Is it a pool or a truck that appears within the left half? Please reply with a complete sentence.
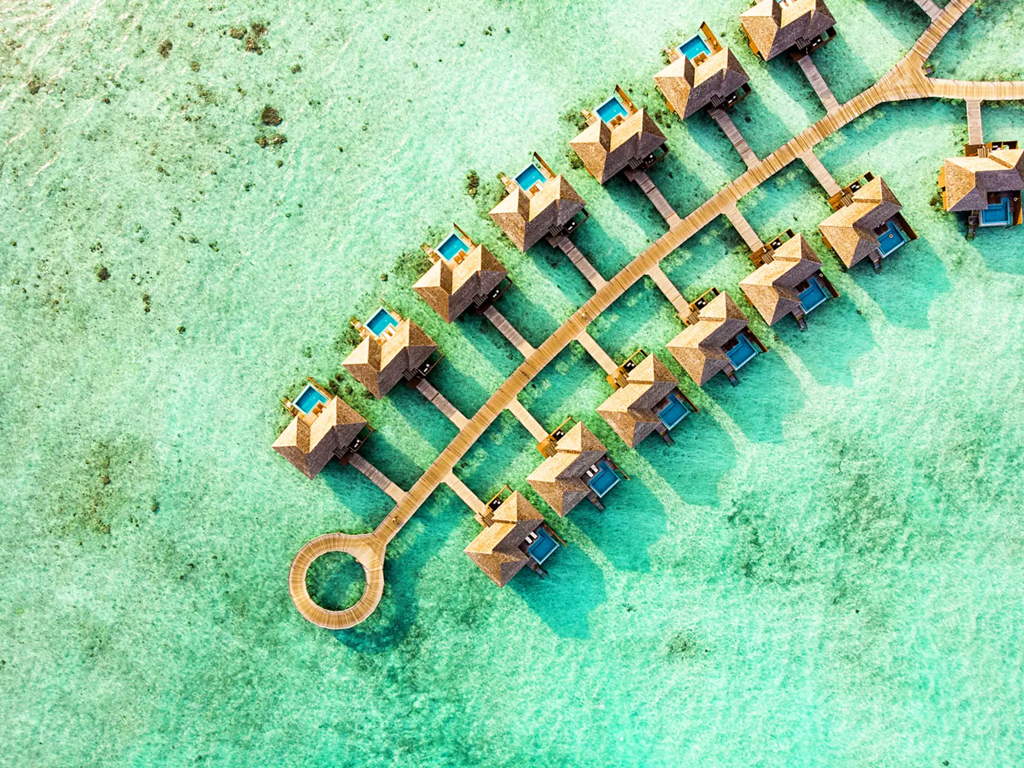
It is a pool that can be seen within the left half.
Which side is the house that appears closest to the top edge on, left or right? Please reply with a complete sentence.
You can find the house that appears closest to the top edge on the right side of the picture.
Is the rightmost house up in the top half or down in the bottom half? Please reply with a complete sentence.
It is in the top half that the rightmost house appears.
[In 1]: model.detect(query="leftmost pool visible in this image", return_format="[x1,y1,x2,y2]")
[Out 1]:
[294,382,331,416]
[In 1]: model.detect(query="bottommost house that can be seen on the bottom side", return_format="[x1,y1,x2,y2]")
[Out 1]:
[464,482,565,587]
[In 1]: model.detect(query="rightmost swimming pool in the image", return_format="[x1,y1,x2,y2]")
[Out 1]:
[971,201,1007,230]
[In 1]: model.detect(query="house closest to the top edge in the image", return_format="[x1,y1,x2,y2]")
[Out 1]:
[736,0,837,74]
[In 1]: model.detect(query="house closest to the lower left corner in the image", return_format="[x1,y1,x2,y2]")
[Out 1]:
[272,378,378,480]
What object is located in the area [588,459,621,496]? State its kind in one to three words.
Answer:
swimming pool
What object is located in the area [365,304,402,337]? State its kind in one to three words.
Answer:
swimming pool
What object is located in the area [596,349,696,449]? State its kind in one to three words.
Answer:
house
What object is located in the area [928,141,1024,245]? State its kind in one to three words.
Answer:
house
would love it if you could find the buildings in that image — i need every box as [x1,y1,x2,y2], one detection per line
[596,349,696,449]
[736,0,837,74]
[809,171,914,278]
[653,26,751,128]
[734,228,836,333]
[342,299,445,400]
[412,225,513,325]
[272,378,378,480]
[489,154,589,254]
[665,287,765,387]
[928,141,1024,245]
[526,416,627,517]
[569,88,669,189]
[464,482,565,587]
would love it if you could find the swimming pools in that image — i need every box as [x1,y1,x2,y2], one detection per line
[528,525,561,562]
[592,96,629,126]
[512,161,549,194]
[435,231,472,264]
[365,304,402,337]
[725,334,758,370]
[674,34,712,63]
[875,222,904,260]
[971,201,1007,230]
[656,393,689,429]
[588,459,621,496]
[797,278,828,315]
[294,382,331,416]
